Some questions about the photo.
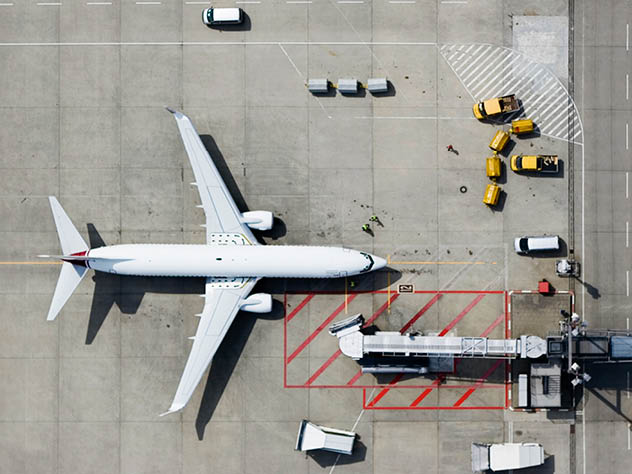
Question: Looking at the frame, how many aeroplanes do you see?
one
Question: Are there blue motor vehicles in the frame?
No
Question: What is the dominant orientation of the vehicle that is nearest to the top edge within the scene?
from side to side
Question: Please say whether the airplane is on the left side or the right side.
left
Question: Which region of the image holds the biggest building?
bottom right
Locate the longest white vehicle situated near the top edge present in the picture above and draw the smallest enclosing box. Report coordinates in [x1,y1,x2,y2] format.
[202,6,243,26]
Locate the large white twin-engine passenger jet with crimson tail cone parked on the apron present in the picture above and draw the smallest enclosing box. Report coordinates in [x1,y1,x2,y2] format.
[43,107,386,414]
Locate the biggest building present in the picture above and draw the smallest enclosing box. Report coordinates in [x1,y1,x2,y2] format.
[526,360,560,408]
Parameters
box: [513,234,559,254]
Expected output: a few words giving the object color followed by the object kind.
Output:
white vehicle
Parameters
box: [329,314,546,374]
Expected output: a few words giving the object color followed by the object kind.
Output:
white jet bridge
